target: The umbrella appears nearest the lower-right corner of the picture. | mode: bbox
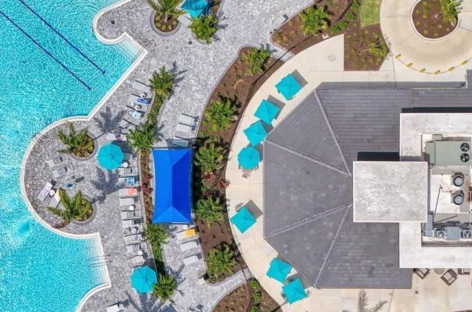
[281,277,306,304]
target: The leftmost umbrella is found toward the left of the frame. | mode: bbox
[98,143,124,171]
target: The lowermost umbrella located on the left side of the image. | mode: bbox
[130,266,157,293]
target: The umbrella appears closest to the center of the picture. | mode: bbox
[238,146,260,169]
